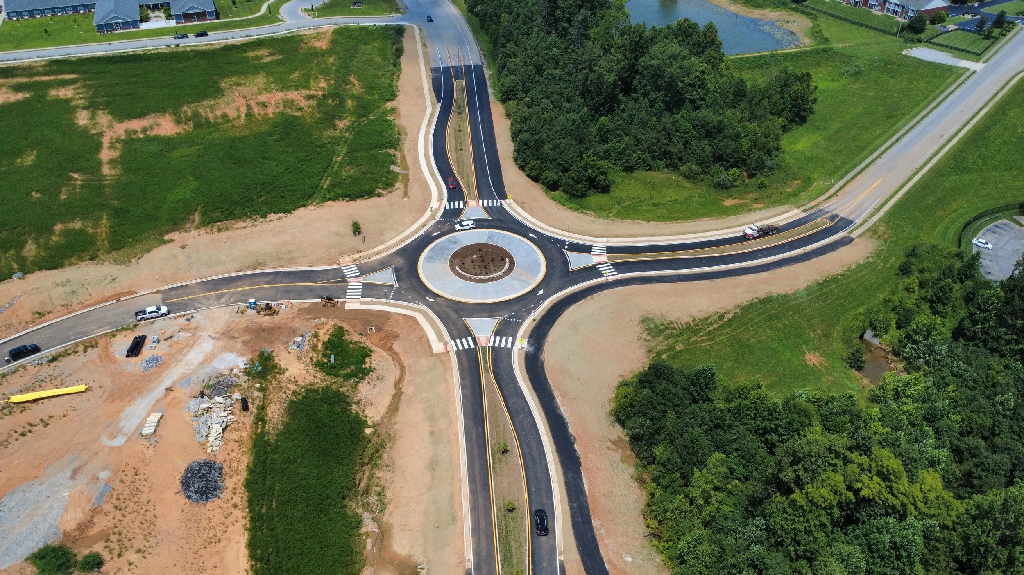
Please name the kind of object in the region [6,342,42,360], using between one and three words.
car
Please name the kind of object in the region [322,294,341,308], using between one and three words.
work vehicle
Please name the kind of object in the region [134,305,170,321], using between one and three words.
vehicle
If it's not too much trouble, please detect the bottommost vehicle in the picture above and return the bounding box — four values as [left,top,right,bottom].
[534,507,550,535]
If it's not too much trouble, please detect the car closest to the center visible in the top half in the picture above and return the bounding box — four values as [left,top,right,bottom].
[454,219,476,232]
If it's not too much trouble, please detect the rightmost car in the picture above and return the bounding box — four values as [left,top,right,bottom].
[971,237,996,249]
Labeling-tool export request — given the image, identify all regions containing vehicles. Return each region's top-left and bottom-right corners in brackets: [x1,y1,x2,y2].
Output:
[426,12,433,20]
[971,237,996,249]
[174,32,188,38]
[322,294,341,308]
[134,305,170,321]
[741,221,783,239]
[447,176,456,187]
[454,219,476,232]
[534,507,550,535]
[252,301,281,317]
[194,30,208,36]
[6,342,42,360]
